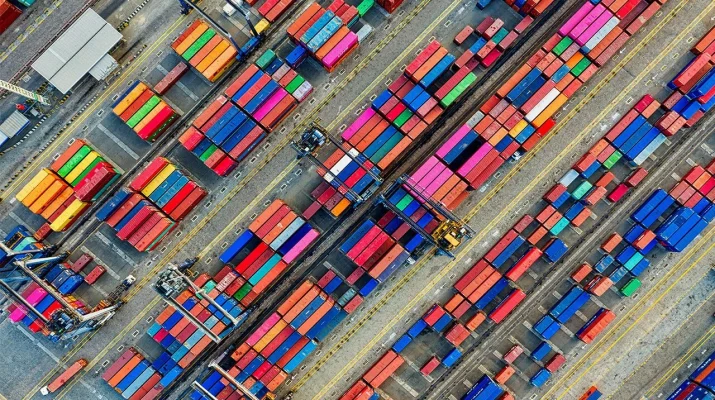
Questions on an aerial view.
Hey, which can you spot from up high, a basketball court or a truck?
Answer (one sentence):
Visible in the photo is a truck.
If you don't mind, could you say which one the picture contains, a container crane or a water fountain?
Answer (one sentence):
Of the two, only a container crane appears.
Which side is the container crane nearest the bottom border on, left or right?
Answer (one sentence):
The container crane nearest the bottom border is on the left side of the image.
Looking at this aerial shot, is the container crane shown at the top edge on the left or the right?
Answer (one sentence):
You can find the container crane shown at the top edge on the left side of the picture.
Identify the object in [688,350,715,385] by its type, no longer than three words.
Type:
shipping container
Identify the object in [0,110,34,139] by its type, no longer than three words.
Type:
shed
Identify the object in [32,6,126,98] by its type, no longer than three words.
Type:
building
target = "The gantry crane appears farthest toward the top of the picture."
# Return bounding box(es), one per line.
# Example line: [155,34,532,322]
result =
[181,0,270,64]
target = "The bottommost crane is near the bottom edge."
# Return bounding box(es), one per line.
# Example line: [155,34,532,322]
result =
[189,339,260,400]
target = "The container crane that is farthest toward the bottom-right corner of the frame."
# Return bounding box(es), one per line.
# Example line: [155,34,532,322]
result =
[375,174,475,258]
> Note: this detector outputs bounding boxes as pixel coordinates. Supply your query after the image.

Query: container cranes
[145,252,256,344]
[289,119,385,205]
[181,0,270,64]
[0,251,124,345]
[189,339,260,400]
[375,174,475,258]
